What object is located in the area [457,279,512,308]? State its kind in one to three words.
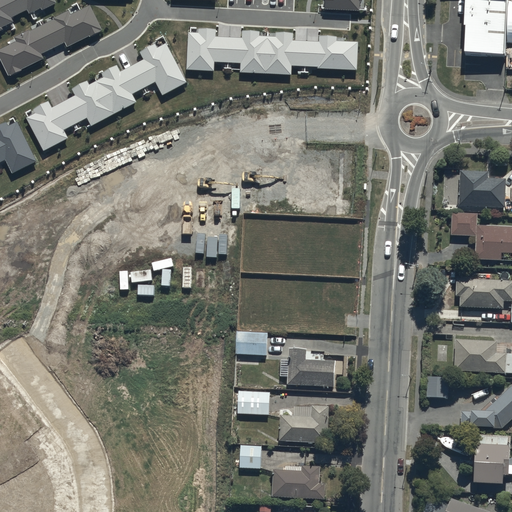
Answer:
house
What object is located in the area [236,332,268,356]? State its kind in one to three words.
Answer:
shed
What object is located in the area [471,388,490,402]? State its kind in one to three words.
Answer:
vehicle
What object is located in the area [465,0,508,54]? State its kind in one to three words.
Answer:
building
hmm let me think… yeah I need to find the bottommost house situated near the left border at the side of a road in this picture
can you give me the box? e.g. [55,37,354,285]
[0,120,34,174]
